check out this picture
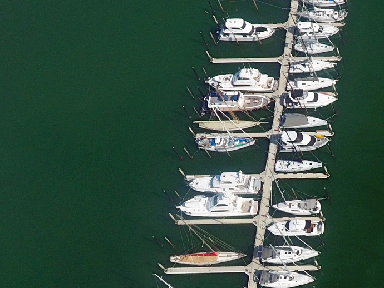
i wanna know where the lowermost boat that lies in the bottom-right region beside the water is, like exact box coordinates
[256,245,316,288]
